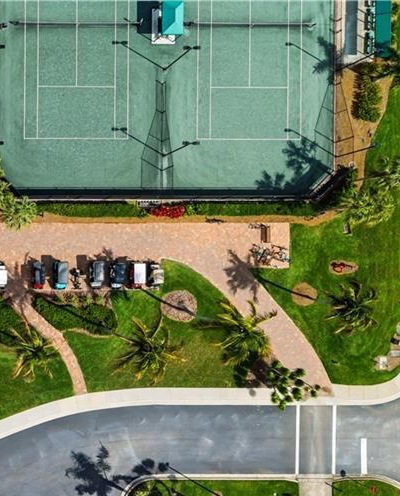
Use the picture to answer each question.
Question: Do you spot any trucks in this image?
No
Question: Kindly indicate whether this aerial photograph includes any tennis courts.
Yes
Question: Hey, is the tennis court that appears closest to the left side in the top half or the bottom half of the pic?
top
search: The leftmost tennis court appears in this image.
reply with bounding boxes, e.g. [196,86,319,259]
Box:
[0,0,163,195]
